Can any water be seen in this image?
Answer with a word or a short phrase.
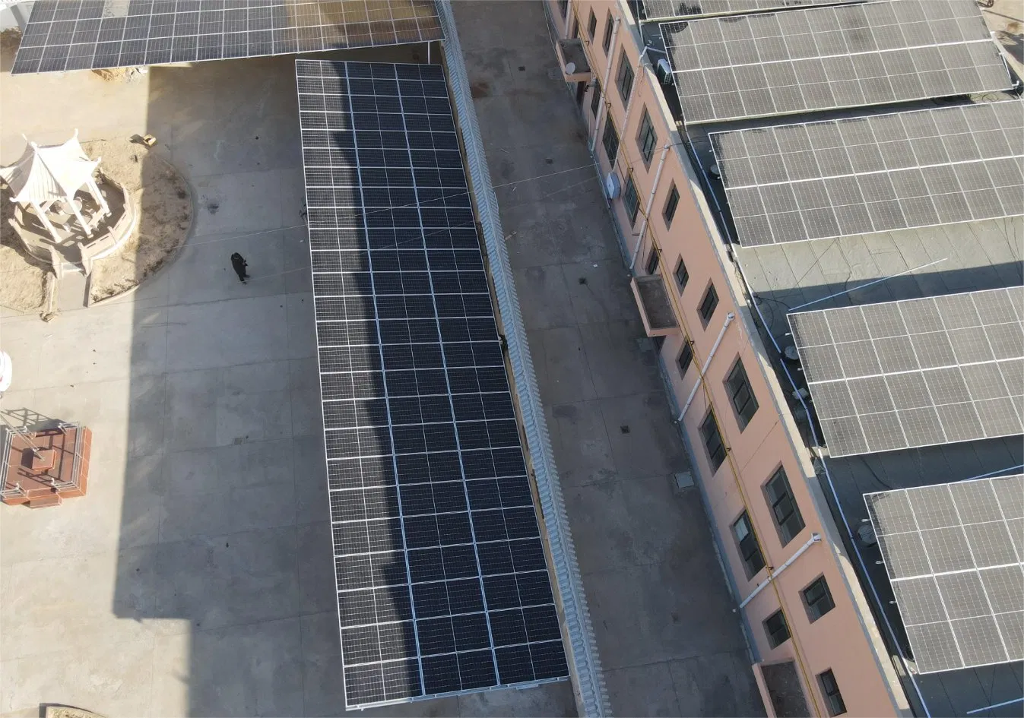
No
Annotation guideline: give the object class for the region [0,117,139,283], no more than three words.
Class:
building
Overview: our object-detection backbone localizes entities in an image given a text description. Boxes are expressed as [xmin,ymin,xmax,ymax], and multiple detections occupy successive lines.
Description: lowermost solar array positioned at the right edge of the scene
[852,473,1024,674]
